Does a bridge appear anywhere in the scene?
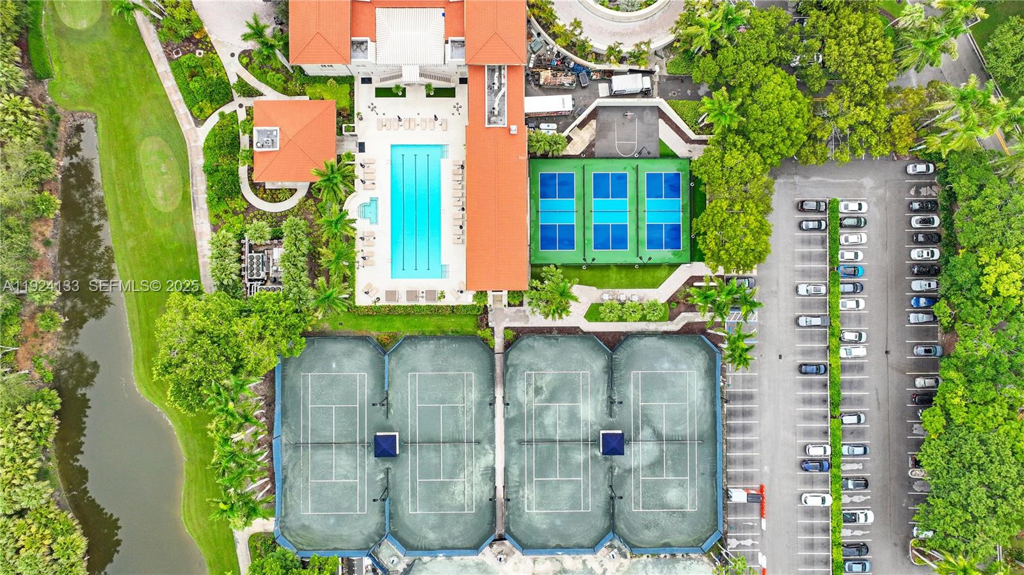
No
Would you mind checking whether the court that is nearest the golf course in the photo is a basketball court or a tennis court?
tennis court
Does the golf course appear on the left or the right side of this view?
left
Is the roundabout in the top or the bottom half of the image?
top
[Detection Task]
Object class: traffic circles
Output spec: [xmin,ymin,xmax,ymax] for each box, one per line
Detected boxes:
[541,0,710,54]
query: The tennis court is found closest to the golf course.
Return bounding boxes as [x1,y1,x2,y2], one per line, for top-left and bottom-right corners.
[280,338,388,552]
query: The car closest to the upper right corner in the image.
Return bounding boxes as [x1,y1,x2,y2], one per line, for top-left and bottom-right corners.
[905,162,934,175]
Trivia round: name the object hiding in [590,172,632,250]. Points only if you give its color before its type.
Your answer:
blue sports court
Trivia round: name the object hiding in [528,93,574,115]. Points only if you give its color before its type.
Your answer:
white trailer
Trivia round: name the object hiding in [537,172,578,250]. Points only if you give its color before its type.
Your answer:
blue sports court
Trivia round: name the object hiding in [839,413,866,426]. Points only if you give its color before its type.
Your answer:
white vehicle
